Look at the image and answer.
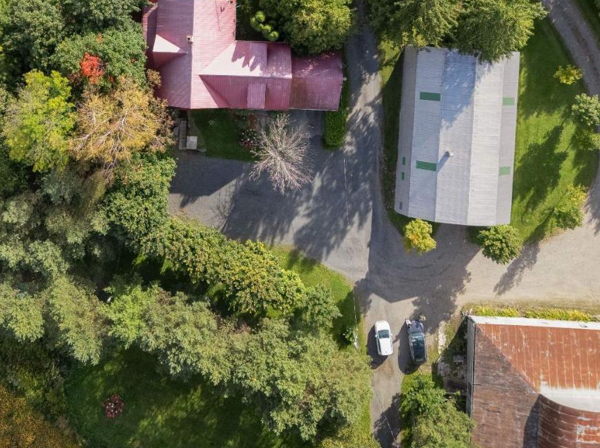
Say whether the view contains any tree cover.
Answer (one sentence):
Yes, tree cover can be seen from above here.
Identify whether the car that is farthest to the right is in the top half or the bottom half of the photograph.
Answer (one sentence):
The car that is farthest to the right sits in the bottom half of the picture.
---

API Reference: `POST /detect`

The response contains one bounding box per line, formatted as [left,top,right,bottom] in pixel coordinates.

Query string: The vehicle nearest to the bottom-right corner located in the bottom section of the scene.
[406,321,427,362]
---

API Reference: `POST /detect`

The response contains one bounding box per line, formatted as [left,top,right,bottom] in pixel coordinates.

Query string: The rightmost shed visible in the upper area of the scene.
[393,49,522,226]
